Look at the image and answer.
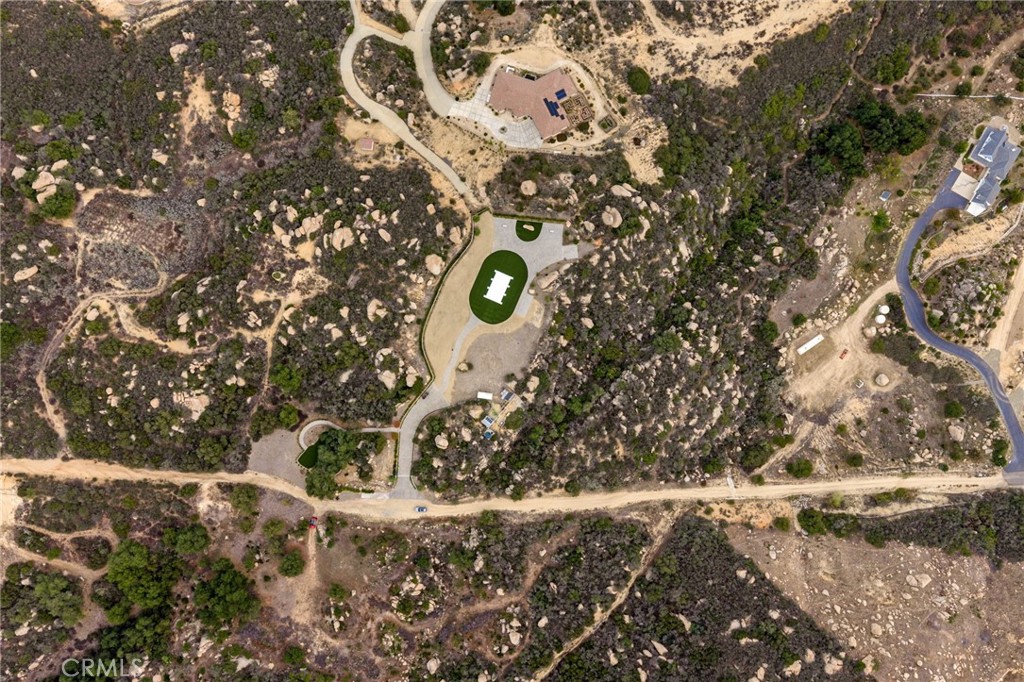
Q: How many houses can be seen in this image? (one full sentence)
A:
In total, 2 houses can be seen.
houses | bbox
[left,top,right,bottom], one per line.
[965,124,1021,217]
[487,67,578,141]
